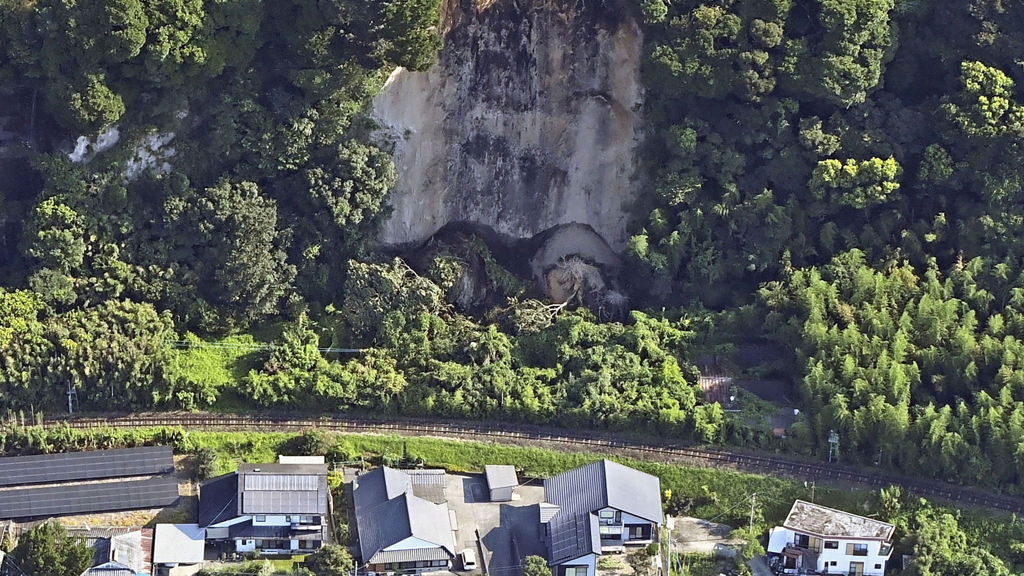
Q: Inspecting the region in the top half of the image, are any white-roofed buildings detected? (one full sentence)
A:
No, in the top half of the image there is no white-roofed building.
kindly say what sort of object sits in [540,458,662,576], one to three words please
house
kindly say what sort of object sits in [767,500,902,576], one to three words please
house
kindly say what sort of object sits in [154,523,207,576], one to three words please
building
